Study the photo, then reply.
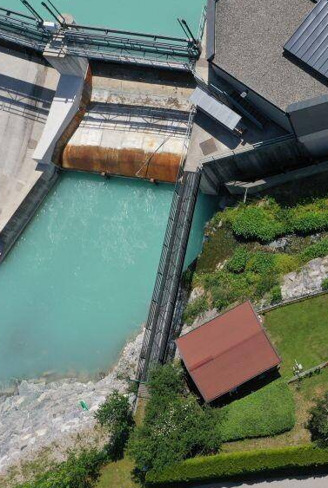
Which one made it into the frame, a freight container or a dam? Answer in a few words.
dam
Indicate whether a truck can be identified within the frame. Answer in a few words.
No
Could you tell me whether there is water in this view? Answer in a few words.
Yes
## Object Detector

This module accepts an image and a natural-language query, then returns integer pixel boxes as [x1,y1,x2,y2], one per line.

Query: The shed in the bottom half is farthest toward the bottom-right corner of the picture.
[175,301,282,403]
